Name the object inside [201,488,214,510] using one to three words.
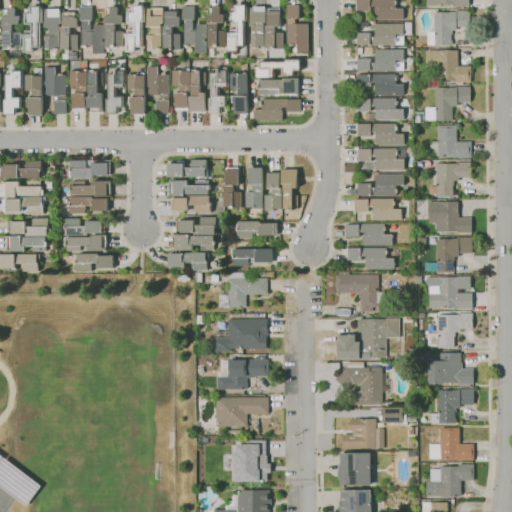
swimming pool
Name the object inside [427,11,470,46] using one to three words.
house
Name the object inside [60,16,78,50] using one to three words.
house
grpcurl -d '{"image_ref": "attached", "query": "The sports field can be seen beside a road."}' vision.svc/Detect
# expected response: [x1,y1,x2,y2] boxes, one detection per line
[0,294,174,512]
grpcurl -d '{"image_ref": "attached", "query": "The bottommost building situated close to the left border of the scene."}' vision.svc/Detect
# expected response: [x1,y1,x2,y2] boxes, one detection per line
[0,455,40,506]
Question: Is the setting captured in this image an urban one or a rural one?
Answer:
urban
